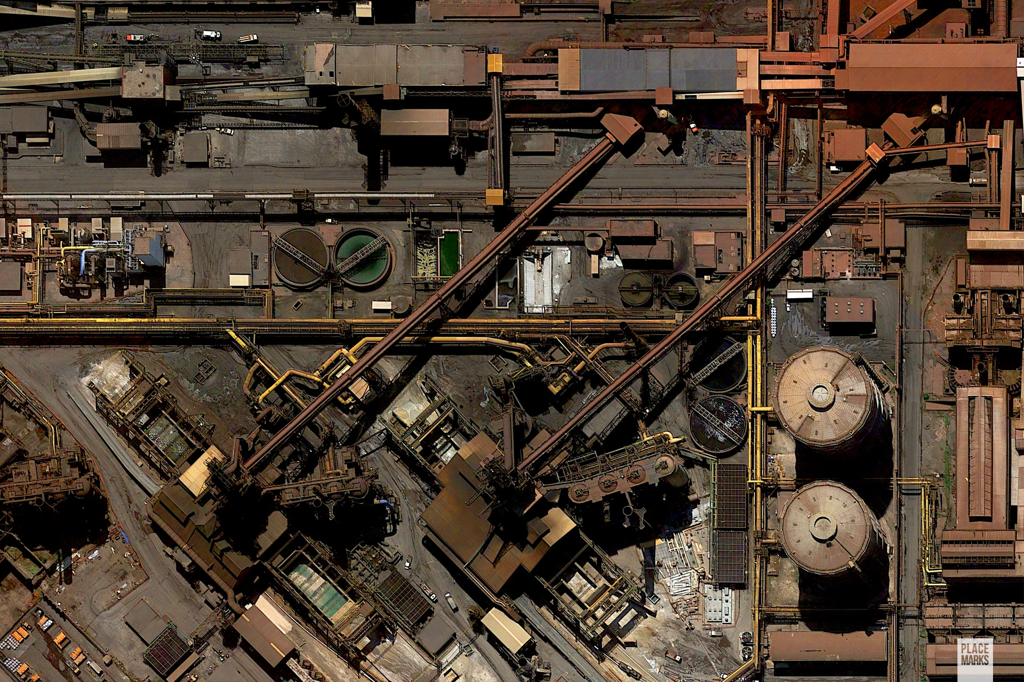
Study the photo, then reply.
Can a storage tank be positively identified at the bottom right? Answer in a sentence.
Yes, a storage tank appears at the bottom right.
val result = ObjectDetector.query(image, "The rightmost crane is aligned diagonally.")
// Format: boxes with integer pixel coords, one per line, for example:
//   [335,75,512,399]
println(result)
[571,569,622,621]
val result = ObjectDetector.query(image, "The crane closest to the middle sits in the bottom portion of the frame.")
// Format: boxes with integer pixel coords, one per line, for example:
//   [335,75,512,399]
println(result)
[413,409,466,460]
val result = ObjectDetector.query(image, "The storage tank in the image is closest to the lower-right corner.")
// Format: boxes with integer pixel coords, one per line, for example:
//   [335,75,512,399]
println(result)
[779,481,884,587]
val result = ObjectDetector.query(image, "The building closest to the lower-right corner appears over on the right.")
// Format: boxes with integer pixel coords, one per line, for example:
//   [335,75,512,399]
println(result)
[926,644,1024,677]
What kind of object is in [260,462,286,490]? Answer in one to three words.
building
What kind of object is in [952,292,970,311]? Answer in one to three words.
chimney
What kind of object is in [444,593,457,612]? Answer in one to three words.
vehicle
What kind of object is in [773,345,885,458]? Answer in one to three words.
storage tank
